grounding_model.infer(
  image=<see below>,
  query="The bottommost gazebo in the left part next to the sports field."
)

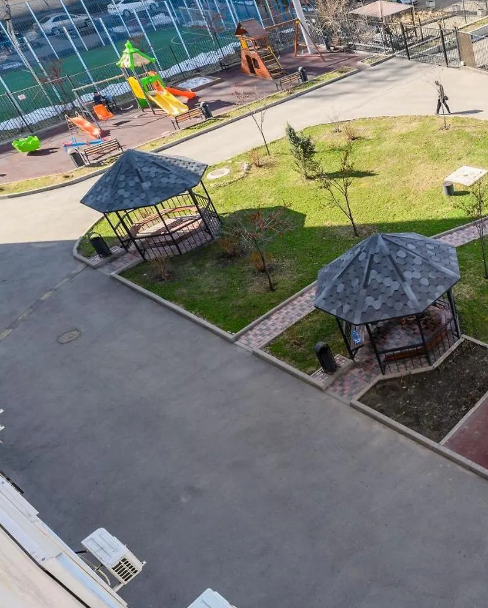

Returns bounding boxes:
[80,146,226,263]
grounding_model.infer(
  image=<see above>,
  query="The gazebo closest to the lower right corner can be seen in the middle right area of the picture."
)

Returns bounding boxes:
[314,230,465,378]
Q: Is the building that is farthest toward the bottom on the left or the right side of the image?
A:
left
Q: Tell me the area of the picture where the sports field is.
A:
top left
